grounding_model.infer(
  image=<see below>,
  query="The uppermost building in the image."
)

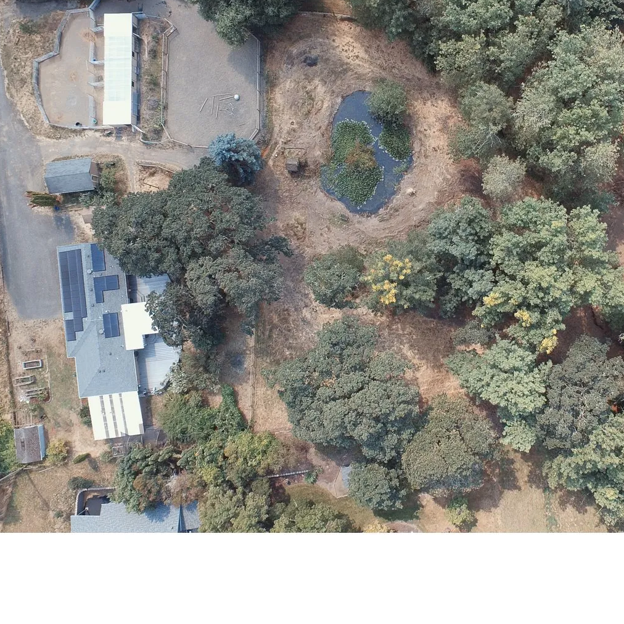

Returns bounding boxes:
[103,13,139,126]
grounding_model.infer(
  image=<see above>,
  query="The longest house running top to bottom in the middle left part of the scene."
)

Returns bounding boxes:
[56,242,141,399]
